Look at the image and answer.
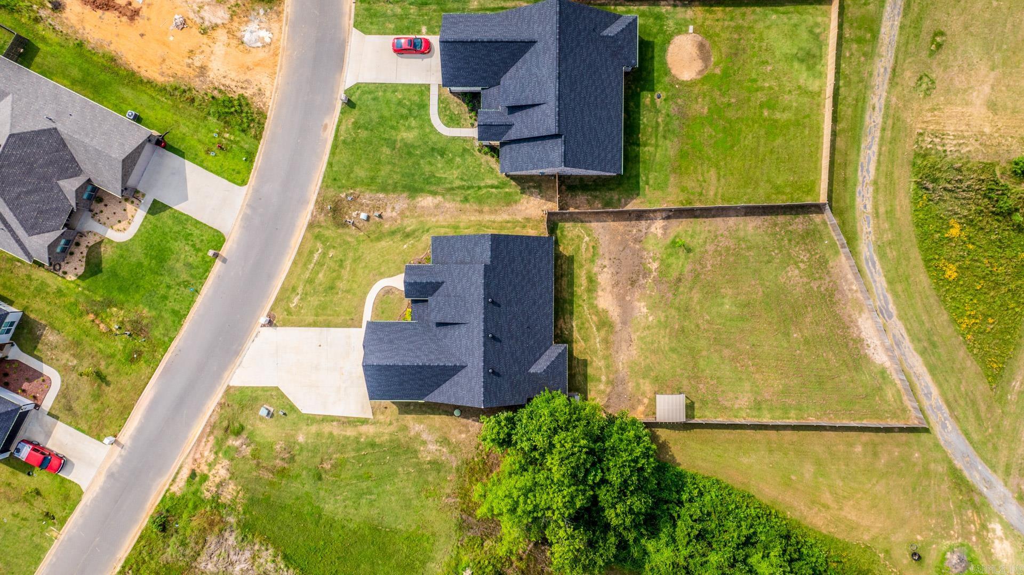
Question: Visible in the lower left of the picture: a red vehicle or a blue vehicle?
red vehicle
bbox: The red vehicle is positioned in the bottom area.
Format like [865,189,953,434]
[11,439,65,475]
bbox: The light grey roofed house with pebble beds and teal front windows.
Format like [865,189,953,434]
[0,58,160,266]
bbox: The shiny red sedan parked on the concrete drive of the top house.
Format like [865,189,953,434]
[391,36,430,55]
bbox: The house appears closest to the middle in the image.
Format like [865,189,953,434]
[362,233,569,408]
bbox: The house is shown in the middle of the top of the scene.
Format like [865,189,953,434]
[440,0,639,176]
